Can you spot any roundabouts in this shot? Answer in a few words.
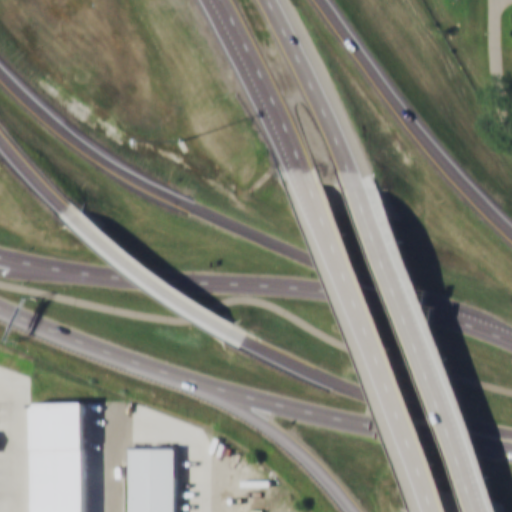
No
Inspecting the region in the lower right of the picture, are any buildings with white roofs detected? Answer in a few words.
No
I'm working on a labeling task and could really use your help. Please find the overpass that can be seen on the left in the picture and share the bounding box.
[60,202,248,348]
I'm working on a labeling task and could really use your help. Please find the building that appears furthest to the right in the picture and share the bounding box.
[127,448,175,512]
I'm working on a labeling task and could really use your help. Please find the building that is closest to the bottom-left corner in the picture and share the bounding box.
[28,402,82,512]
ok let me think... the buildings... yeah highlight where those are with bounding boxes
[127,448,175,512]
[28,402,82,512]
